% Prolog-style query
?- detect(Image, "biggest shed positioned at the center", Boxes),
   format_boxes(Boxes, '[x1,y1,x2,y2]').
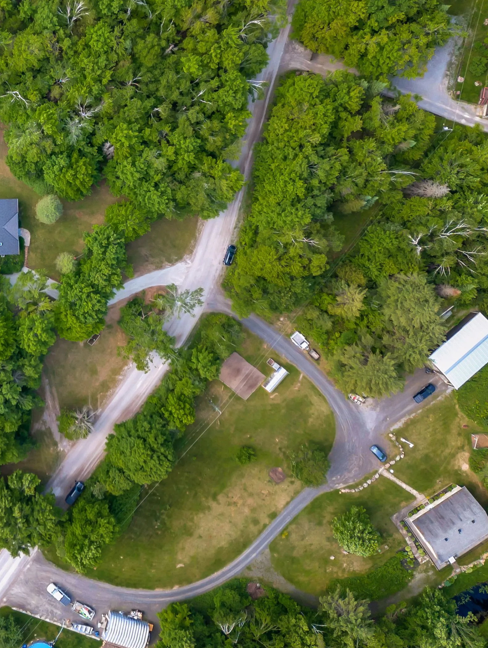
[215,352,267,400]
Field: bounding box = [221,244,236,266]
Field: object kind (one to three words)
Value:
car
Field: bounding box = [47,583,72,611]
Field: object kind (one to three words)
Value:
truck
